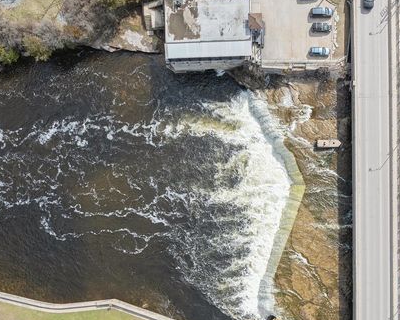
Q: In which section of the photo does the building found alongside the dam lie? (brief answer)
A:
top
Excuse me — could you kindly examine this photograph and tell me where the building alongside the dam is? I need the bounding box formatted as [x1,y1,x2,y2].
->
[164,0,253,76]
